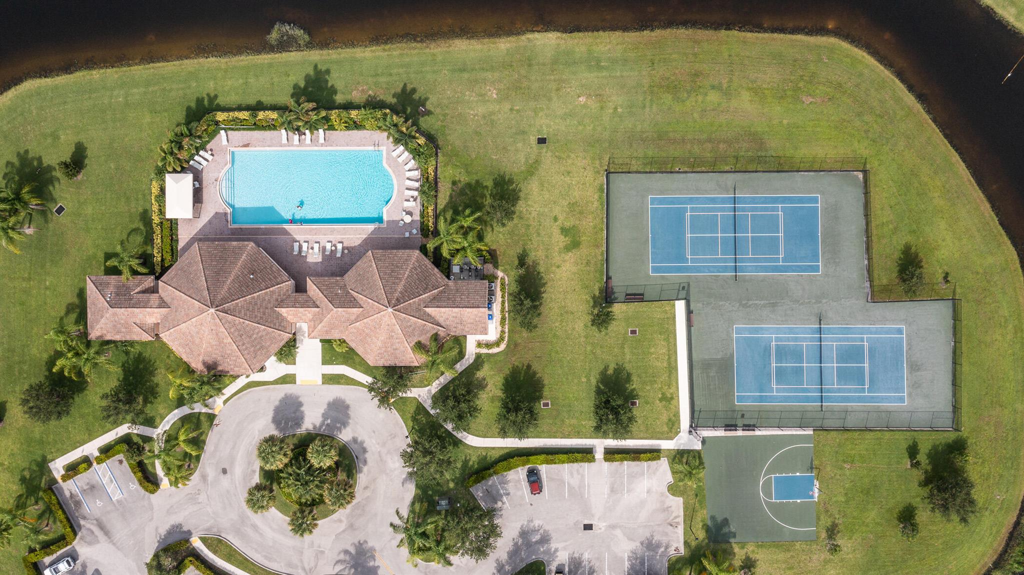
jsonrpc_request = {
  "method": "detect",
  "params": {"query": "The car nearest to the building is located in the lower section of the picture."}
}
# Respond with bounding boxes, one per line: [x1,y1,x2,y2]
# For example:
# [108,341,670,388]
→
[526,466,542,496]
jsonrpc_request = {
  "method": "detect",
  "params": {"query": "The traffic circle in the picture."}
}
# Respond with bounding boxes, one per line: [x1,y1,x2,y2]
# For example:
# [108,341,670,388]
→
[257,430,360,522]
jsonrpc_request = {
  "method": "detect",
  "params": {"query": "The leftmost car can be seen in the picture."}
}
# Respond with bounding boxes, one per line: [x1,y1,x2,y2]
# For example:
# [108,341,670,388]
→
[43,555,77,575]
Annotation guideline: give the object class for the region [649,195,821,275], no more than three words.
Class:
tennis court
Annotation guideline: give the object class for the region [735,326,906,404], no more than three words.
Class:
tennis court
